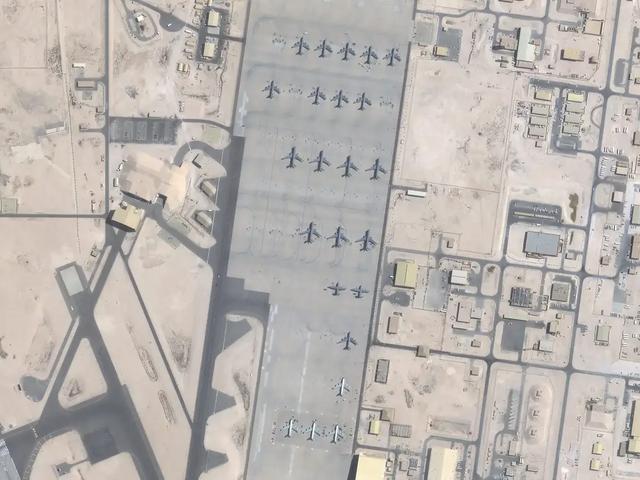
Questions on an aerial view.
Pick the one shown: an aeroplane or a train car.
aeroplane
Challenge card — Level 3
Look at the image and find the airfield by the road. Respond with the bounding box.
[0,0,417,480]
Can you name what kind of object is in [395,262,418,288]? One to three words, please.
hangar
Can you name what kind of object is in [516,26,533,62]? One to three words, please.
building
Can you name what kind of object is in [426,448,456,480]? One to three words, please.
hangar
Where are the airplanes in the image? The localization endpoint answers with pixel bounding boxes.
[360,46,378,64]
[262,81,279,99]
[331,89,348,108]
[328,227,348,248]
[356,230,376,251]
[365,158,386,180]
[332,378,349,396]
[314,39,332,57]
[303,422,321,441]
[351,285,369,298]
[300,222,321,243]
[282,147,302,168]
[337,156,358,177]
[353,92,371,111]
[328,282,346,296]
[281,419,299,438]
[382,48,401,66]
[338,332,356,350]
[338,42,355,60]
[309,151,330,172]
[308,86,325,104]
[291,36,309,55]
[326,425,344,443]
